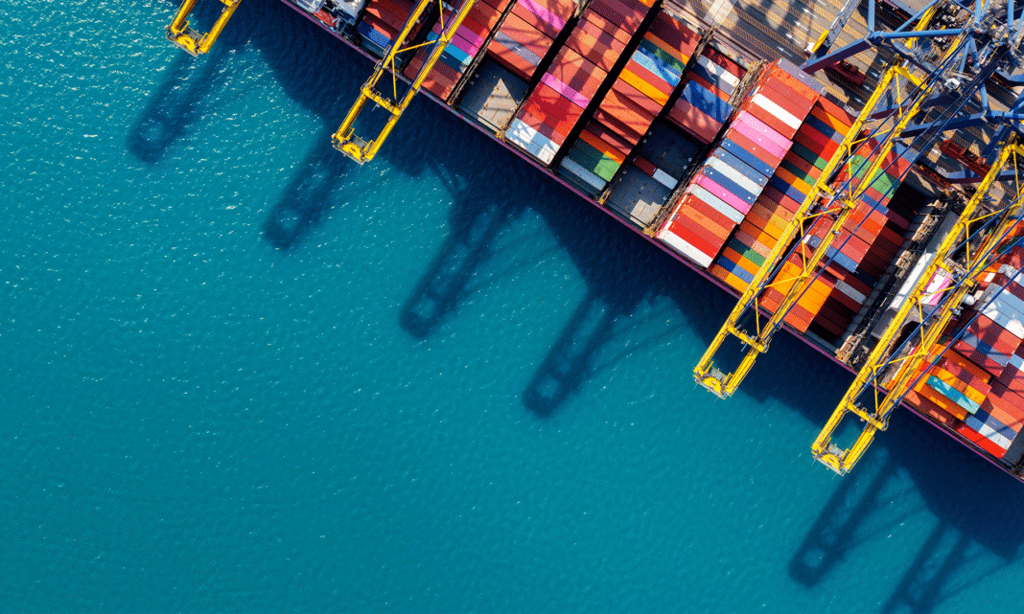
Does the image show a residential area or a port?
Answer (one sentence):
What you see here is a port.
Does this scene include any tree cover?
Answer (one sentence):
No, there is no tree cover in the image.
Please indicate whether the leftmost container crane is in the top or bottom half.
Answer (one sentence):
The leftmost container crane sits in the top half of the picture.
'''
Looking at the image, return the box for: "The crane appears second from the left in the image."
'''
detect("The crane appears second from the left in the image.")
[327,0,471,163]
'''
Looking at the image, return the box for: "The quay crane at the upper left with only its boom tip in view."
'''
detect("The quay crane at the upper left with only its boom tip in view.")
[162,0,240,56]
